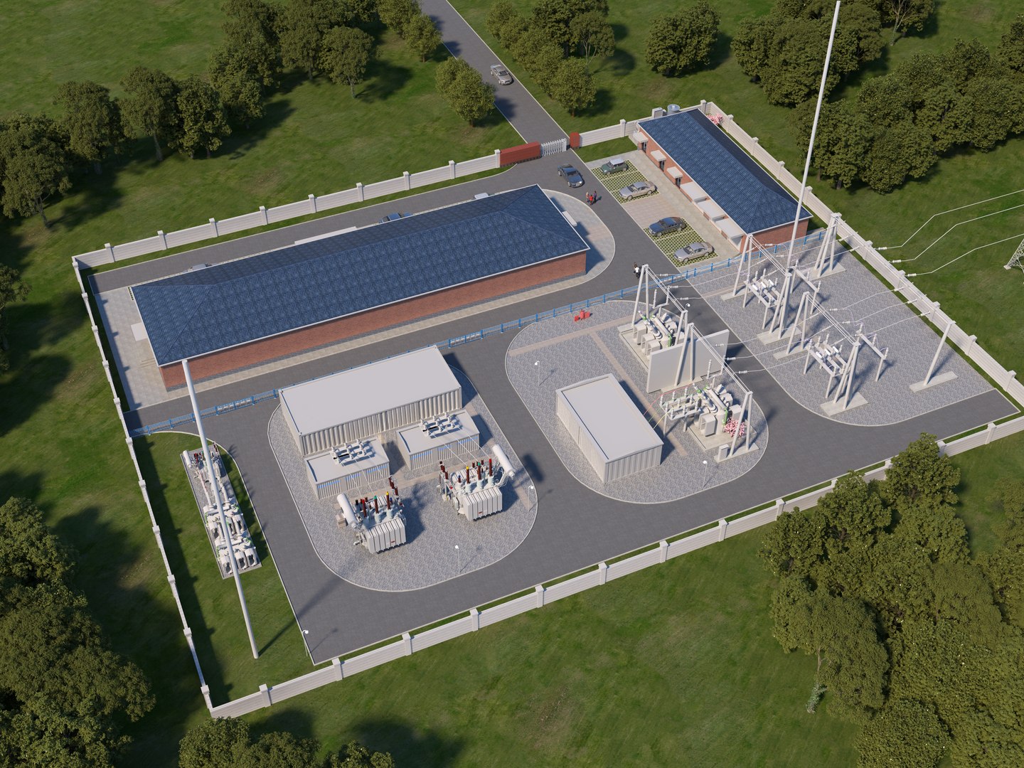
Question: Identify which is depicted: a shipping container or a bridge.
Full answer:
Of the two, only a shipping container appears.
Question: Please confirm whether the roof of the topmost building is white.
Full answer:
No, the color of the roof of the topmost building is blue.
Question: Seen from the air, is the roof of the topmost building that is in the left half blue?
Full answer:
Yes, the roof of the topmost building that is in the left half appears blue.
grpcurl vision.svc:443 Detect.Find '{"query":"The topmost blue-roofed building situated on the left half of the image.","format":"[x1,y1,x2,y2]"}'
[130,184,591,390]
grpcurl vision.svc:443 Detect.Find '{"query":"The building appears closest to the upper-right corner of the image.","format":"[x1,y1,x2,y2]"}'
[629,108,813,256]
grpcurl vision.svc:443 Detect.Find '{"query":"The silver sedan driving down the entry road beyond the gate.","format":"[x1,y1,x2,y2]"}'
[490,63,513,84]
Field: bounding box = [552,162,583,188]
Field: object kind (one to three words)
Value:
car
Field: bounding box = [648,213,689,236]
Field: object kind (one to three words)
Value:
car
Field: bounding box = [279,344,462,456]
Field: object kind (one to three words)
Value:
shipping container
